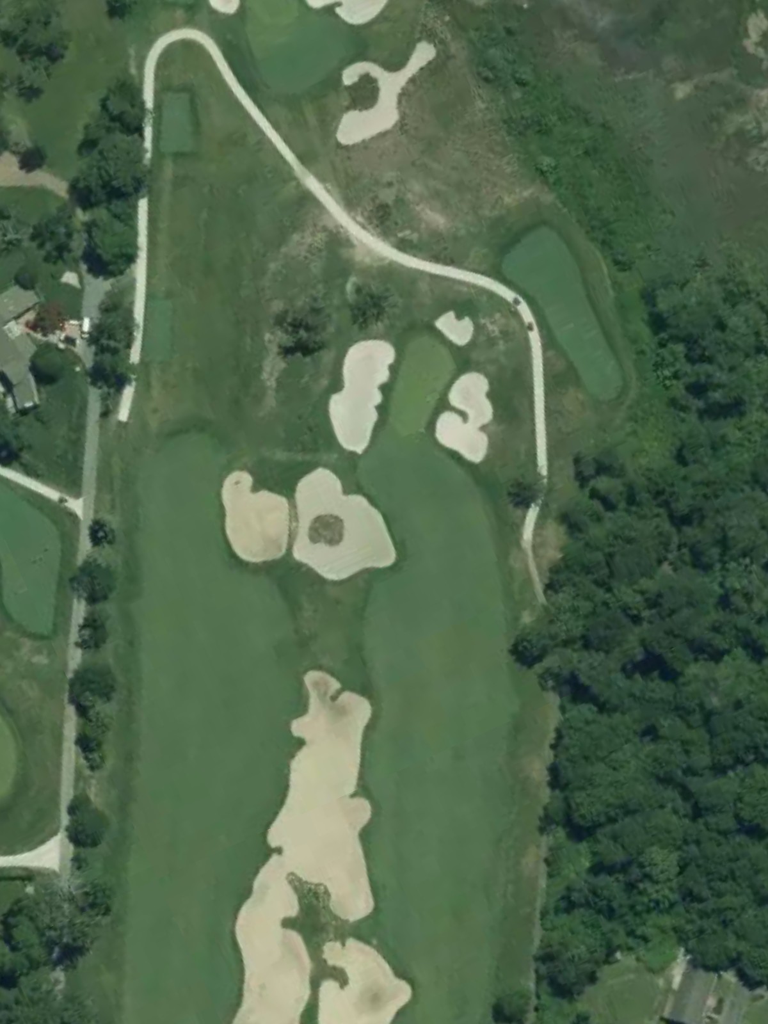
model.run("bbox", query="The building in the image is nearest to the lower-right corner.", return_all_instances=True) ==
[669,965,719,1024]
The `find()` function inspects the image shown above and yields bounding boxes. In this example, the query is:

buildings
[0,284,41,408]
[669,965,719,1024]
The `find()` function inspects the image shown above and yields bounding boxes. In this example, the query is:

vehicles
[64,336,76,344]
[514,297,521,305]
[528,322,533,330]
[58,497,66,504]
[81,315,89,337]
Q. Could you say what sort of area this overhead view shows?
golf course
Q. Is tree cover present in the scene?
Yes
